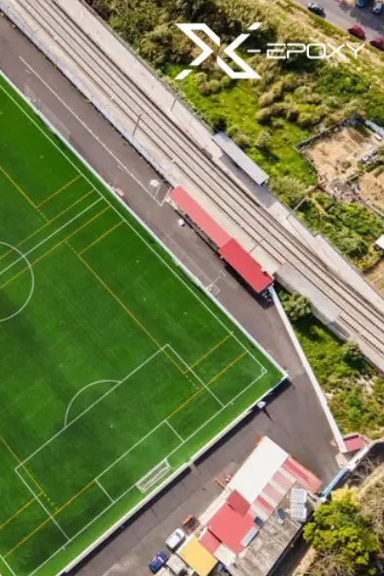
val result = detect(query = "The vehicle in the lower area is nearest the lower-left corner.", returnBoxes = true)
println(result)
[148,553,168,573]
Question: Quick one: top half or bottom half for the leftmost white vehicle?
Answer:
bottom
